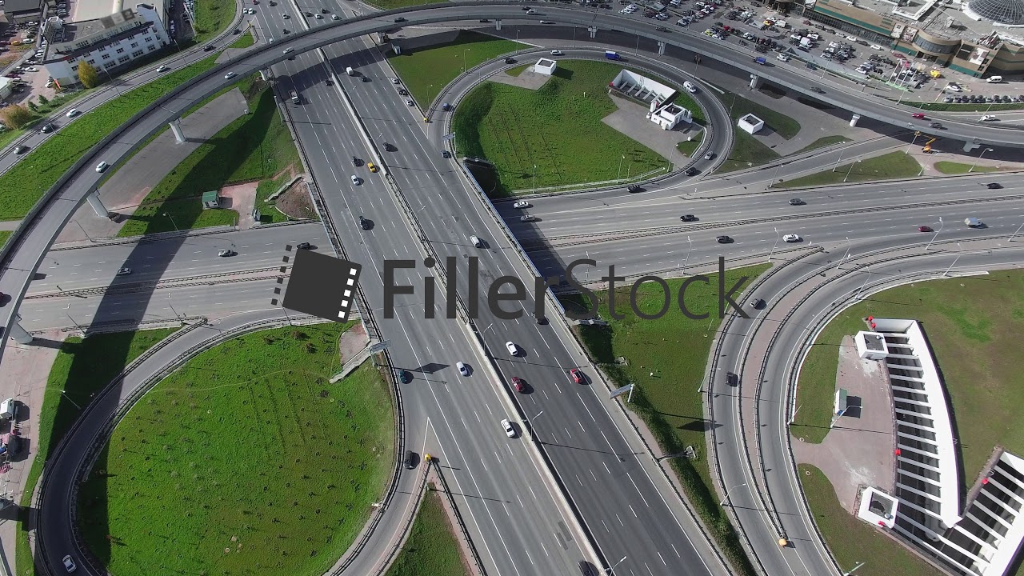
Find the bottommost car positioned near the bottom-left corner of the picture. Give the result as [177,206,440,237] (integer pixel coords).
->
[60,552,79,574]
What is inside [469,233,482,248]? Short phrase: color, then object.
white vehicle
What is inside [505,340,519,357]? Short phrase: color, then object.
white car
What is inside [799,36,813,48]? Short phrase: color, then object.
white vehicle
